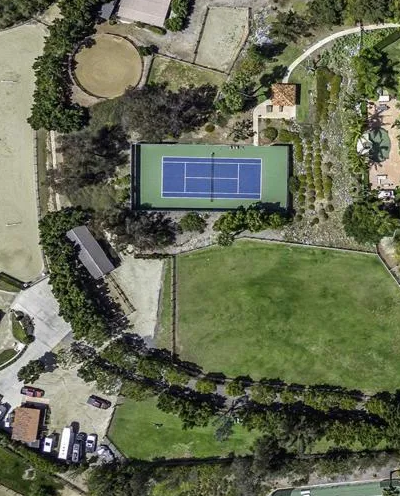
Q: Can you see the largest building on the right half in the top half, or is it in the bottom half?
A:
top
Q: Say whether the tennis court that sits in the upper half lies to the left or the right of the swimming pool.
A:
left of it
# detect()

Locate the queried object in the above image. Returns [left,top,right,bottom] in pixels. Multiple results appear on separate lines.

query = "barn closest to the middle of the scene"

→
[69,225,118,279]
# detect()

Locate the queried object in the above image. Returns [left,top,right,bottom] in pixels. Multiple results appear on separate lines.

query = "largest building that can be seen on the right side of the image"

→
[272,84,295,105]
